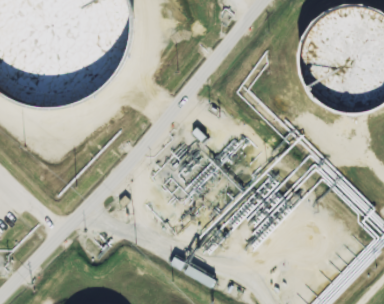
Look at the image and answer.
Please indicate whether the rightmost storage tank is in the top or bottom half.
top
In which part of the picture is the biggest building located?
bottom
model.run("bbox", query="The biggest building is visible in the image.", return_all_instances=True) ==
[184,265,218,291]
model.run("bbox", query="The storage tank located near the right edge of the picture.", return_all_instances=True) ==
[296,4,384,116]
